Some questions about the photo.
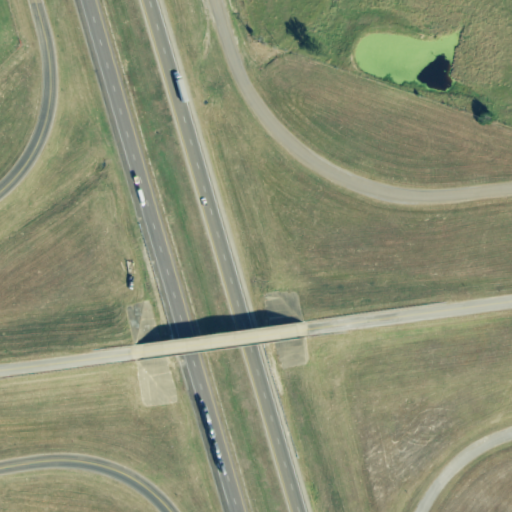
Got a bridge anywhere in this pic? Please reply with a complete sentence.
Yes, there's a bridge down there.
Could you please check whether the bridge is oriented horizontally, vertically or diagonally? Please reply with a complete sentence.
The bridge has been laid out horizontally relative to the frame.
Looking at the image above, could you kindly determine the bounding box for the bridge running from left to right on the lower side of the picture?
[132,322,310,361]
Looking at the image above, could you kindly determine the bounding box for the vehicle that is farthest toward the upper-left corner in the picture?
[172,70,188,103]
